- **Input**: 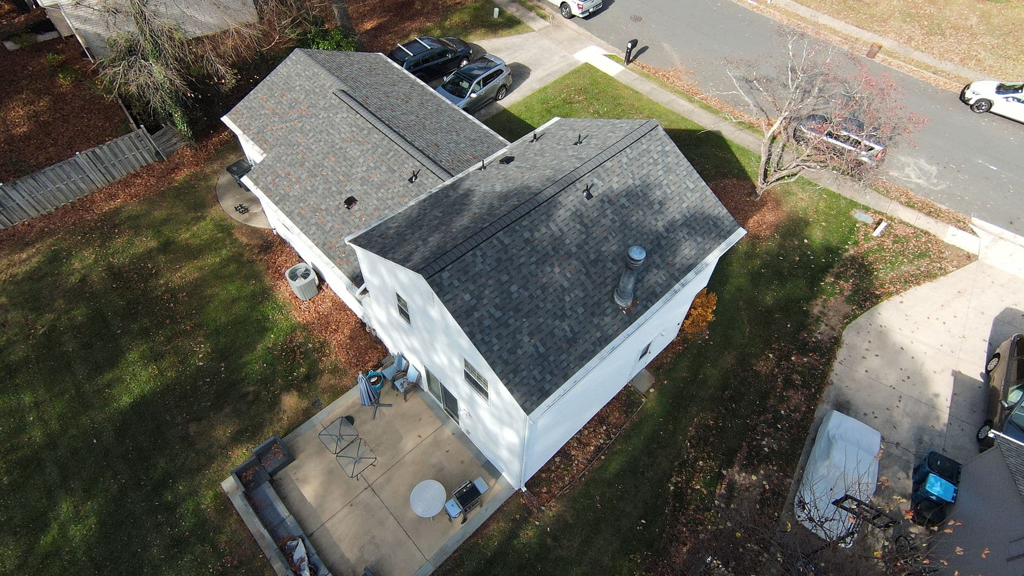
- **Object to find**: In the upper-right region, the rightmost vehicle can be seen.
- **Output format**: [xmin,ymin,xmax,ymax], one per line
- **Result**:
[960,73,1024,125]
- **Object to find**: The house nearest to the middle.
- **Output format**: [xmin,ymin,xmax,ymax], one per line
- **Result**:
[220,49,748,499]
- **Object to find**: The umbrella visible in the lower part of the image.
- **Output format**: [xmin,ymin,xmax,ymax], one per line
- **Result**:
[361,368,391,418]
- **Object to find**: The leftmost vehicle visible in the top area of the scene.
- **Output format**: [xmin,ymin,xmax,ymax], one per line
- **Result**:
[390,30,474,81]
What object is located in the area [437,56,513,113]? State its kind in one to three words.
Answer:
car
